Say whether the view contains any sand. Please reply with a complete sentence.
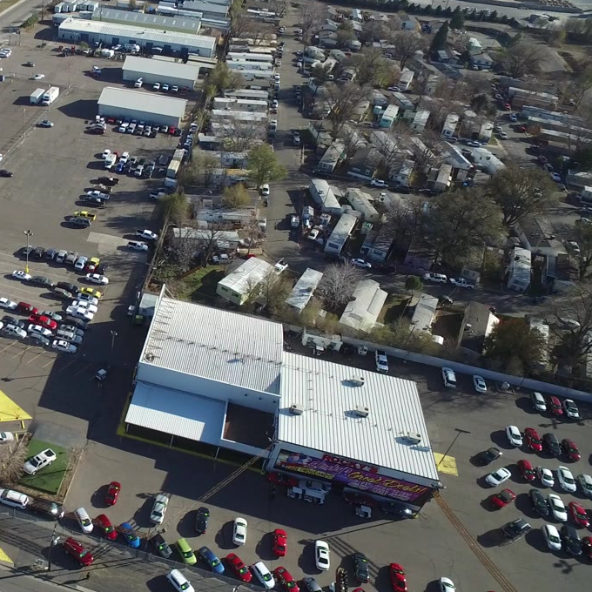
No, there is no sand in the image.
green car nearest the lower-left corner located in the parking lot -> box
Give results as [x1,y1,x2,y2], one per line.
[173,538,197,567]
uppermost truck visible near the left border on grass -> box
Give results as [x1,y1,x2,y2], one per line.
[21,448,58,472]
